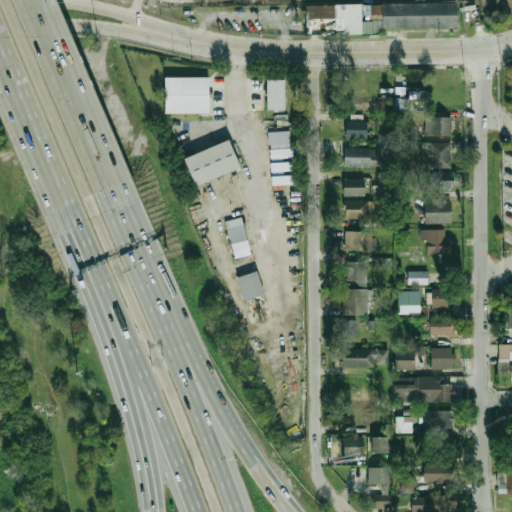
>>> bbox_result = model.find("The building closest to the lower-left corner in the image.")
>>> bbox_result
[239,272,264,300]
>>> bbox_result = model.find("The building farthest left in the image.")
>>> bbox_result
[165,76,210,114]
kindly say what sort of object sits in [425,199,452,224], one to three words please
house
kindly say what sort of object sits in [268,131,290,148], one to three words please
shed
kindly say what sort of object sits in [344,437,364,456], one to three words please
house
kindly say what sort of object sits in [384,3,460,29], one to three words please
building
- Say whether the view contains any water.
No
